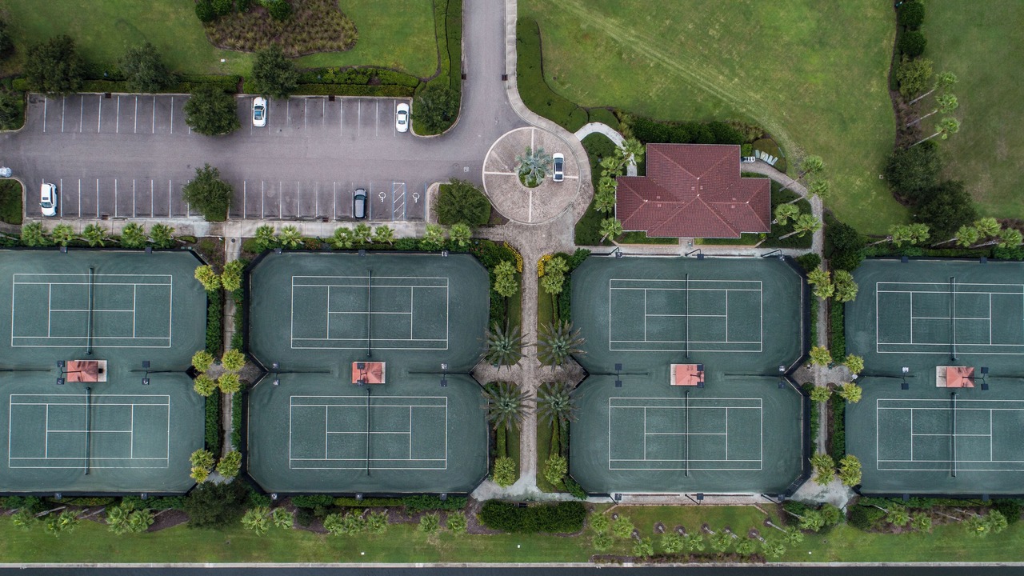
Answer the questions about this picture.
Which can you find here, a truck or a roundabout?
roundabout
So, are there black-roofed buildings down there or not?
No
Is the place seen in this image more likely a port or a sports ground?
sports ground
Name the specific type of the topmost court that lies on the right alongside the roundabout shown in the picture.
tennis court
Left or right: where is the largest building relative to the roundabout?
to the right of it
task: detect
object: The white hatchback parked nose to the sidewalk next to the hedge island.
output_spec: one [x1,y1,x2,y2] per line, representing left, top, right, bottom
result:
[40,184,59,216]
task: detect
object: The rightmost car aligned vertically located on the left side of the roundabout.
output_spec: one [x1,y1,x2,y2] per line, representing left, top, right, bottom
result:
[395,104,409,133]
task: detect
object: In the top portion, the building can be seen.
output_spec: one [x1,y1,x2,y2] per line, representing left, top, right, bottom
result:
[615,143,771,239]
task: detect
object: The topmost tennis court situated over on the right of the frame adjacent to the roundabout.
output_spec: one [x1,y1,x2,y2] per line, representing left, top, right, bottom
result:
[573,256,803,374]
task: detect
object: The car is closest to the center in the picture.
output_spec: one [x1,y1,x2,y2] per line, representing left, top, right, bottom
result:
[551,153,565,182]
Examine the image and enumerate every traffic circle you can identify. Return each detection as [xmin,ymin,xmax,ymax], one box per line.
[478,123,583,227]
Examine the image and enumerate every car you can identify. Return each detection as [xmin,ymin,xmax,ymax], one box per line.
[551,153,565,182]
[40,184,59,216]
[0,166,12,179]
[353,189,368,219]
[252,98,268,128]
[395,104,409,133]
